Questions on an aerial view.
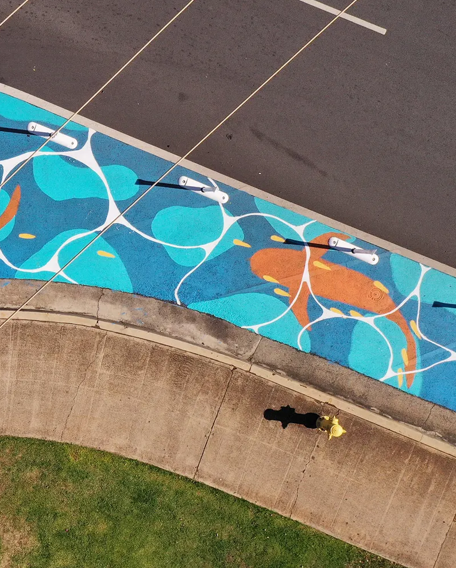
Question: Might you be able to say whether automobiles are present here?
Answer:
No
